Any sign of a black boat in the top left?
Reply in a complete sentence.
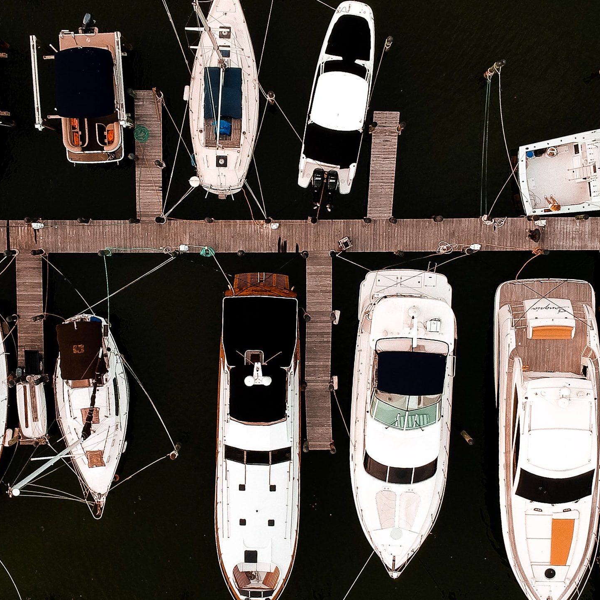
Yes, a black boat shows up in the top left.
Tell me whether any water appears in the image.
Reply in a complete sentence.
Yes, there is water in the image.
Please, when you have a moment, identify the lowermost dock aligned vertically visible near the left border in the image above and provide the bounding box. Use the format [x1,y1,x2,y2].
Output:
[16,253,48,444]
